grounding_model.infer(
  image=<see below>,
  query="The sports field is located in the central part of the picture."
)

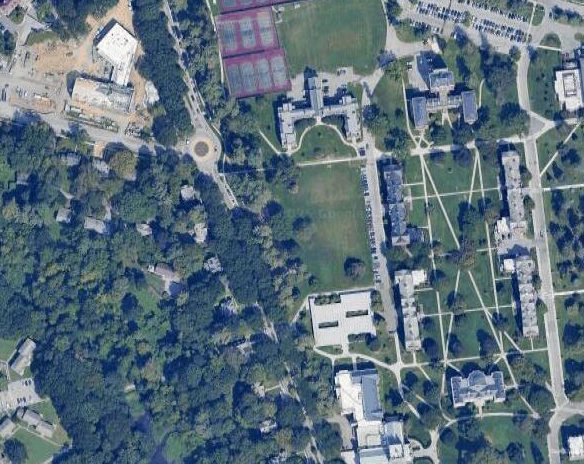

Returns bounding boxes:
[275,159,382,294]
